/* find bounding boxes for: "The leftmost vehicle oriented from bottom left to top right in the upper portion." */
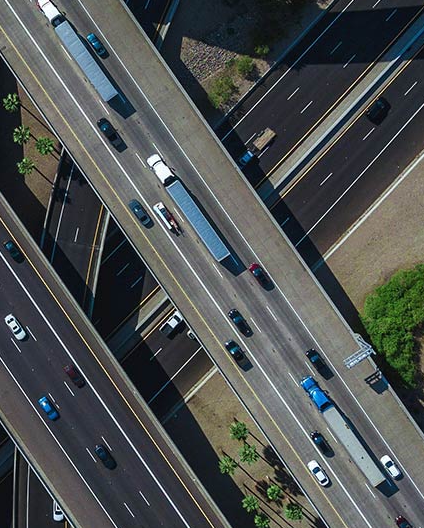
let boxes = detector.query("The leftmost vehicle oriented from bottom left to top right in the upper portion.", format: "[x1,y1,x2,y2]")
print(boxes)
[239,128,276,165]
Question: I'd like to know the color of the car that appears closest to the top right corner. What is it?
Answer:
black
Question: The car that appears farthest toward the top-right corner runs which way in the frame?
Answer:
on a diagonal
